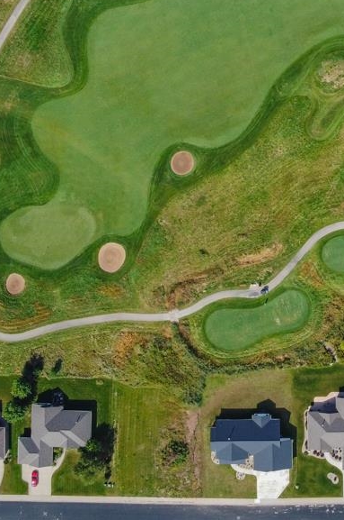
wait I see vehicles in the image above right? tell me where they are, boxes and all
[30,469,38,486]
[261,286,270,294]
[248,284,259,289]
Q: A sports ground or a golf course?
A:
golf course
